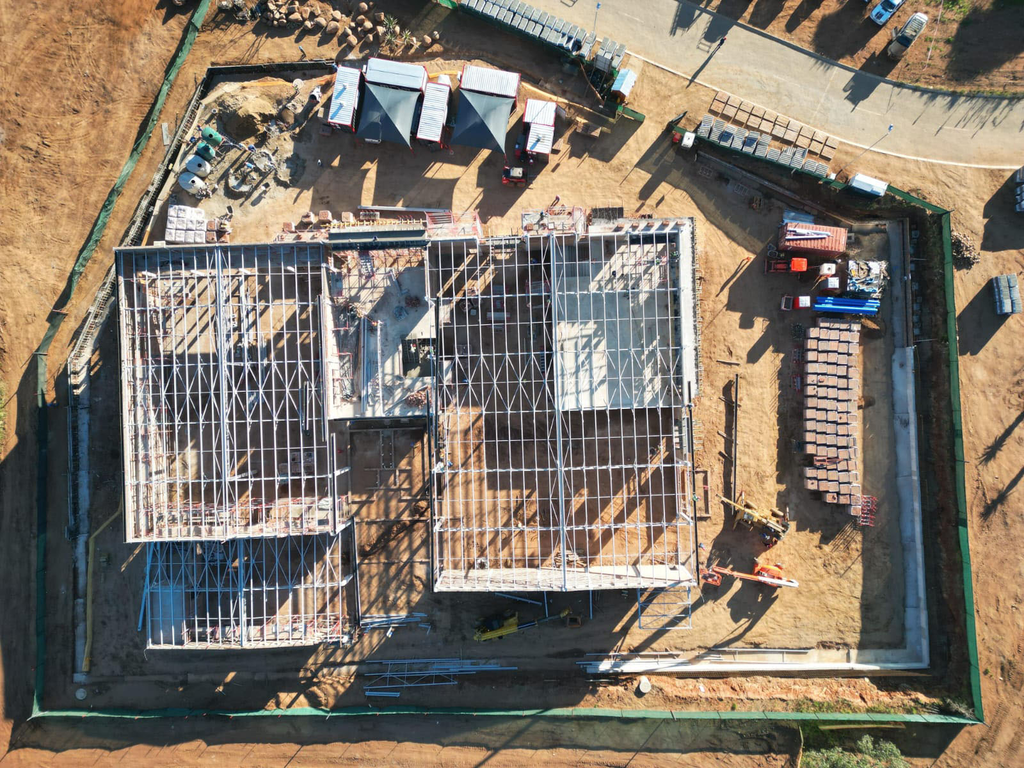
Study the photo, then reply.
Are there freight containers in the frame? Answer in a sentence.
Yes, a freight container is visible in the scene.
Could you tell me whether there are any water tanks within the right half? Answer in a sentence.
No, no water tank appears within the right half.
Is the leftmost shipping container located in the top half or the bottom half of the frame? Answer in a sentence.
It is in the top half that the leftmost shipping container appears.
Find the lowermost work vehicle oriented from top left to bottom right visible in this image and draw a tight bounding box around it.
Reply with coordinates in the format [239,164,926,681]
[724,496,793,545]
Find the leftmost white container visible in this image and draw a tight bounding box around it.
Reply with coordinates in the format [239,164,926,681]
[330,67,366,134]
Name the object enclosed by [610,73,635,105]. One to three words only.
shed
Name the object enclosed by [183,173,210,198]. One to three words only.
water tank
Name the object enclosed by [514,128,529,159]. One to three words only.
work vehicle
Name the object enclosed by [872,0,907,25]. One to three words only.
car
